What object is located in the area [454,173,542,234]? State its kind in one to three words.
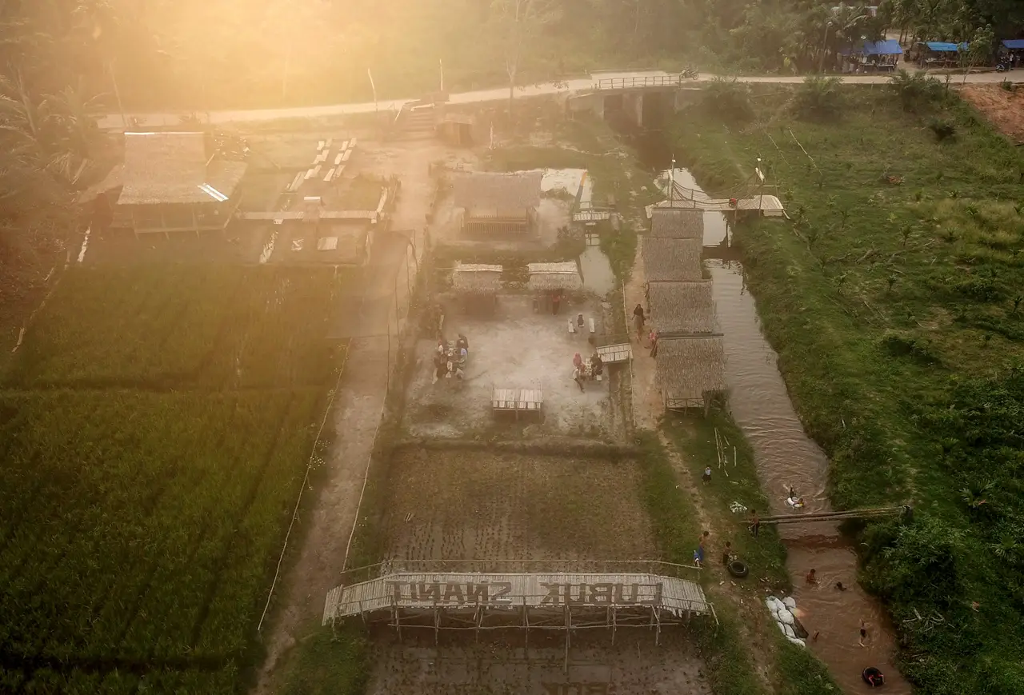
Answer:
building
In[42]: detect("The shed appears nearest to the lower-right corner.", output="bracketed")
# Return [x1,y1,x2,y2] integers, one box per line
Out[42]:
[640,330,727,414]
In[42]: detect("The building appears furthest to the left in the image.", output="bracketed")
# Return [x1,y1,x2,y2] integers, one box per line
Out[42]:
[77,131,249,243]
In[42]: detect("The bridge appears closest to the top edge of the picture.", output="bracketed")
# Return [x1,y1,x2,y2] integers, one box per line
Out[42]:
[592,70,696,119]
